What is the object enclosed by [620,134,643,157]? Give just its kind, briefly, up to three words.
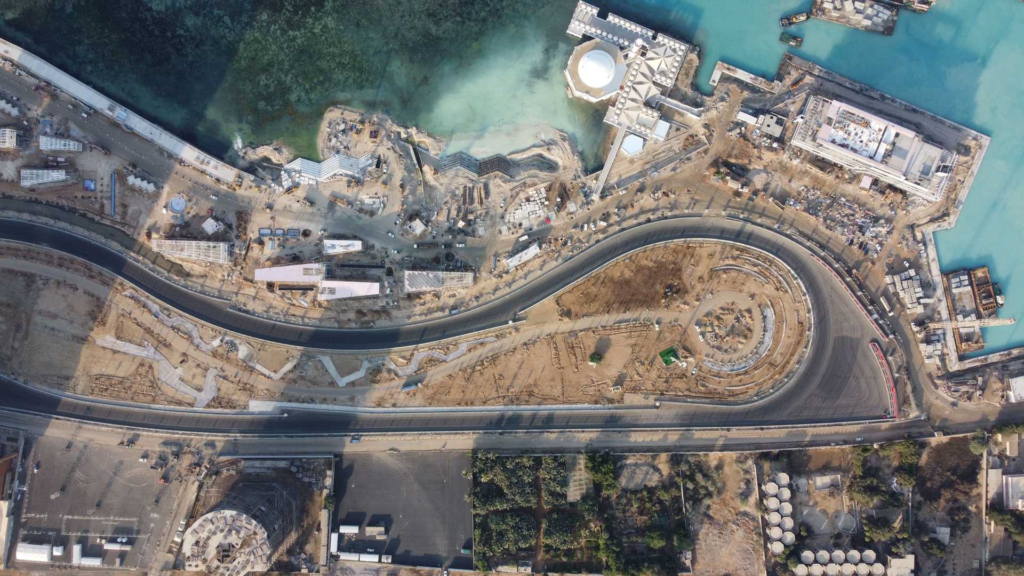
building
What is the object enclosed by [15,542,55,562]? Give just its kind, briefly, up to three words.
tent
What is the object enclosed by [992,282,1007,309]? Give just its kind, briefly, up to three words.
boat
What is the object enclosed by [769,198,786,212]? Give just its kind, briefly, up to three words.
vehicle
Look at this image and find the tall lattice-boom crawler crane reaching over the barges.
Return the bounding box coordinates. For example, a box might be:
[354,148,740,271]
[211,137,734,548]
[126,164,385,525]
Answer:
[906,319,1017,342]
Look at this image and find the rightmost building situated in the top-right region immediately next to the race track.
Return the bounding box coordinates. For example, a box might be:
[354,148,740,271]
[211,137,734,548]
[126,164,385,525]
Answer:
[783,94,959,207]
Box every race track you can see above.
[0,216,902,435]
